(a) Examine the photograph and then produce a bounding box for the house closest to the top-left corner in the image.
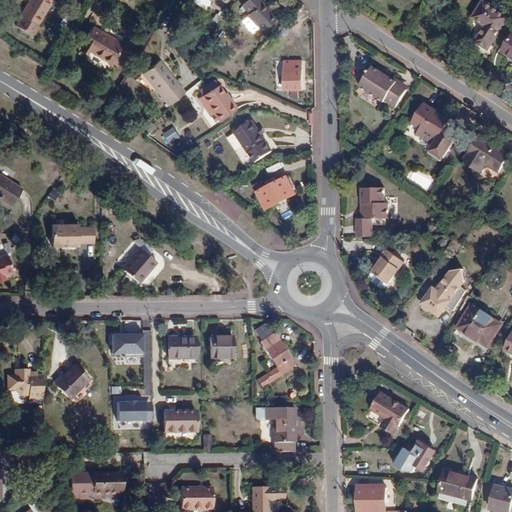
[14,0,50,42]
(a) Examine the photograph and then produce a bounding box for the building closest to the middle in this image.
[254,175,296,213]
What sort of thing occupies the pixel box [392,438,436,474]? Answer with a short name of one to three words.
house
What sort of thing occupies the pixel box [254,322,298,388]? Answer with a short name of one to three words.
house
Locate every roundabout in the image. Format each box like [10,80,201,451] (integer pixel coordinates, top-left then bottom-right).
[272,246,347,322]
